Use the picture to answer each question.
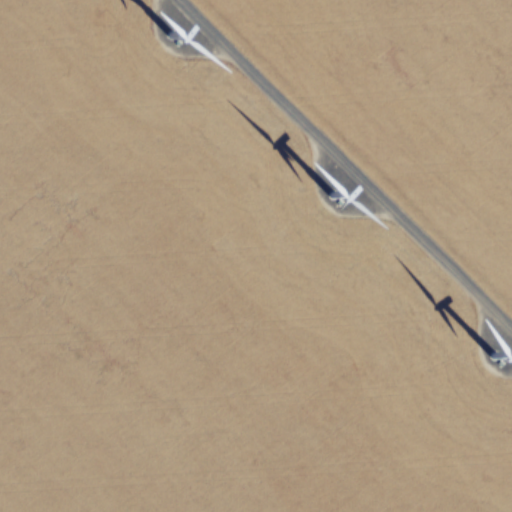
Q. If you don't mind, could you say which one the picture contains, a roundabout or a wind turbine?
wind turbine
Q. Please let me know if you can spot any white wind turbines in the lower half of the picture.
Yes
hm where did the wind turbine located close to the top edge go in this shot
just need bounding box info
[160,8,232,72]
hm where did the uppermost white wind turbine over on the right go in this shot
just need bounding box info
[316,161,390,230]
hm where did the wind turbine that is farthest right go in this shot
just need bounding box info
[488,320,512,364]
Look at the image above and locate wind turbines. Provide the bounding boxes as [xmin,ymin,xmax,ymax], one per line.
[488,320,512,364]
[316,161,390,230]
[160,8,232,72]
